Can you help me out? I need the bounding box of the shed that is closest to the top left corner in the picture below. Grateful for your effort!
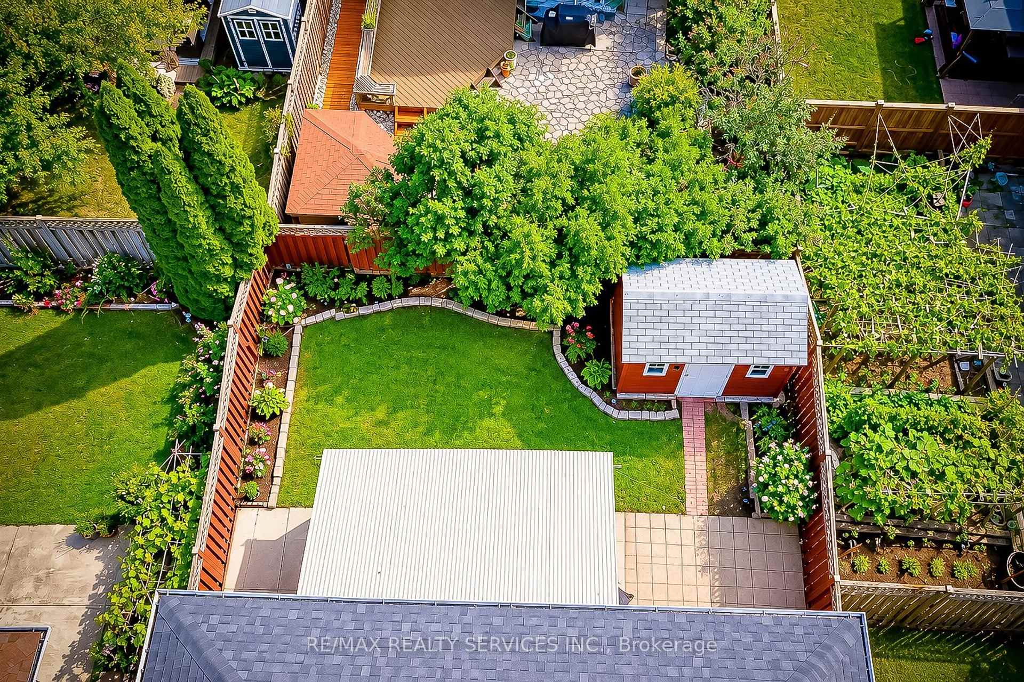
[214,0,302,71]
